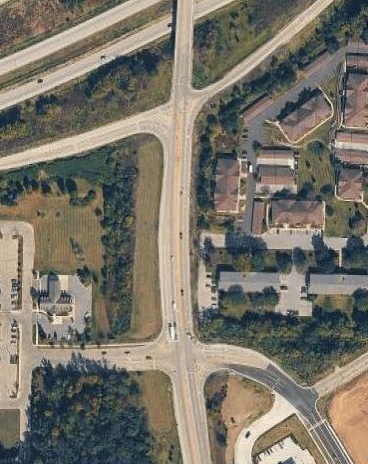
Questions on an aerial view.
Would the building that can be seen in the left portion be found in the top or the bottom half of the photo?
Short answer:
bottom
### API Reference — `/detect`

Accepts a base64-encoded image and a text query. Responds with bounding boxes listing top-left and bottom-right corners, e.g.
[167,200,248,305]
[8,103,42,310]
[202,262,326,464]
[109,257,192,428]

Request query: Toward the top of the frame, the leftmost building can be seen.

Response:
[215,154,241,212]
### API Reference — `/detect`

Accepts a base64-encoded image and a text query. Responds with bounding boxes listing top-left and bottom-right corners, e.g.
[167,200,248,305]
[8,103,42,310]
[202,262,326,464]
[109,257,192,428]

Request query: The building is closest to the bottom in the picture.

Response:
[38,296,72,318]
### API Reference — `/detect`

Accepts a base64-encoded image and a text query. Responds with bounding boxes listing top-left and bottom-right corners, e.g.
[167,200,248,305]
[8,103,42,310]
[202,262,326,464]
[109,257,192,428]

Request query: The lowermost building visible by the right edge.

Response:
[308,274,368,295]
